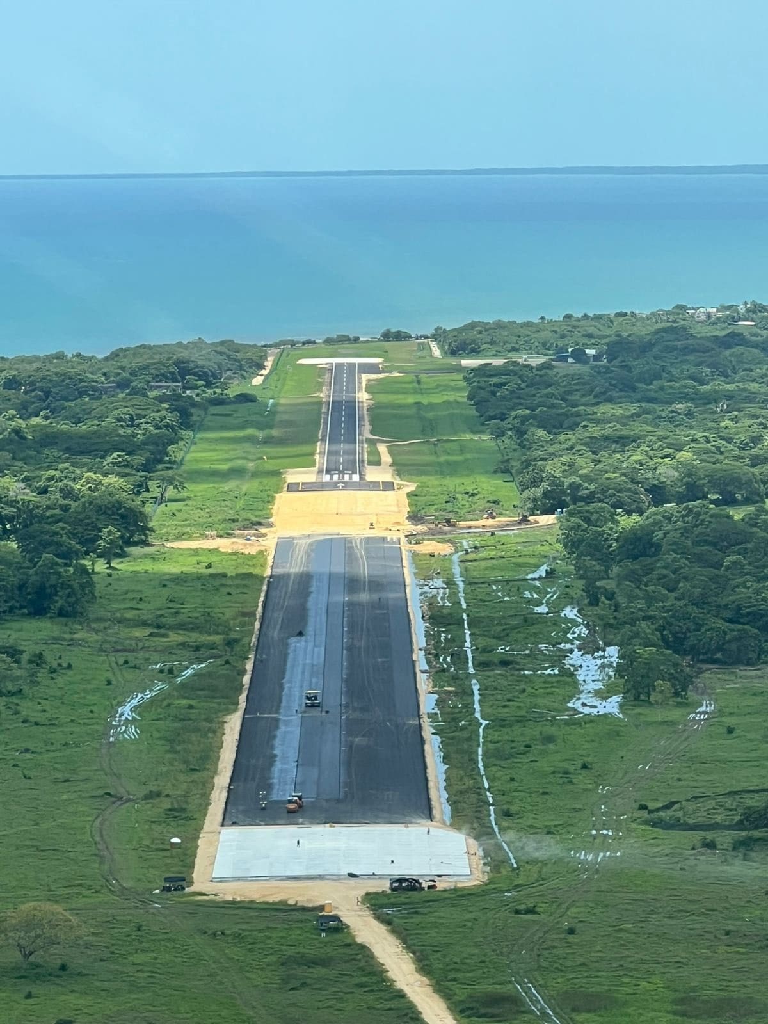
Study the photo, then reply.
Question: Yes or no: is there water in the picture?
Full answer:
Yes, there's water in this view.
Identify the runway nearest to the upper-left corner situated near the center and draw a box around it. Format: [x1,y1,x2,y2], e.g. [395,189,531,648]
[325,363,363,480]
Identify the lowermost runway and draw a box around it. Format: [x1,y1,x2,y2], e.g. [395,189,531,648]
[228,538,439,825]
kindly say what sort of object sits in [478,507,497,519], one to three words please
vehicle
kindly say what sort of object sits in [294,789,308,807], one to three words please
work vehicle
